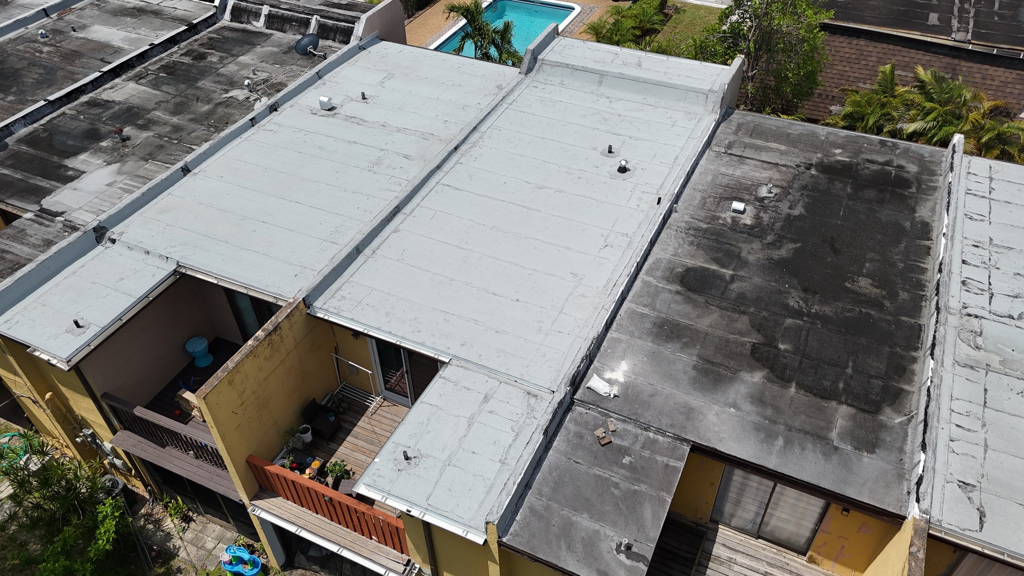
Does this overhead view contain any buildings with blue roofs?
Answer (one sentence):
No, there isn't any building with a blue roof down there.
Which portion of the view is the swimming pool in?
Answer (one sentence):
You can find the swimming pool in the top area of the picture.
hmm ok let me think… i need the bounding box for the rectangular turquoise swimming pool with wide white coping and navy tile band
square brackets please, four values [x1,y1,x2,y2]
[430,0,581,65]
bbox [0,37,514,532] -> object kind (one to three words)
house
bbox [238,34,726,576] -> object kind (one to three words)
house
